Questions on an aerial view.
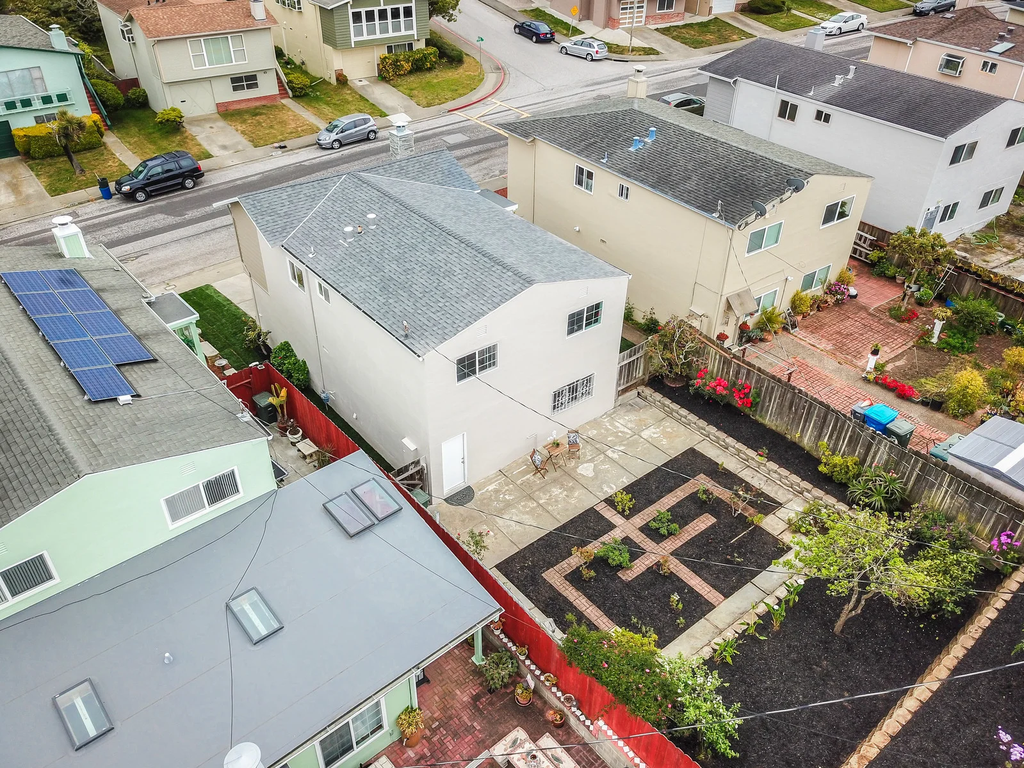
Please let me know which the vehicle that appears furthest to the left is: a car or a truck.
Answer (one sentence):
Specifically, the vehicle that appears furthest to the left is a car.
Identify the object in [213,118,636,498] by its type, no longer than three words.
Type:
house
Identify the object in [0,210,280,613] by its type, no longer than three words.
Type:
house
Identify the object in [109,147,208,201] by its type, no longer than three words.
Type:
car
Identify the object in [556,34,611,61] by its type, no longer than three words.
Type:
car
